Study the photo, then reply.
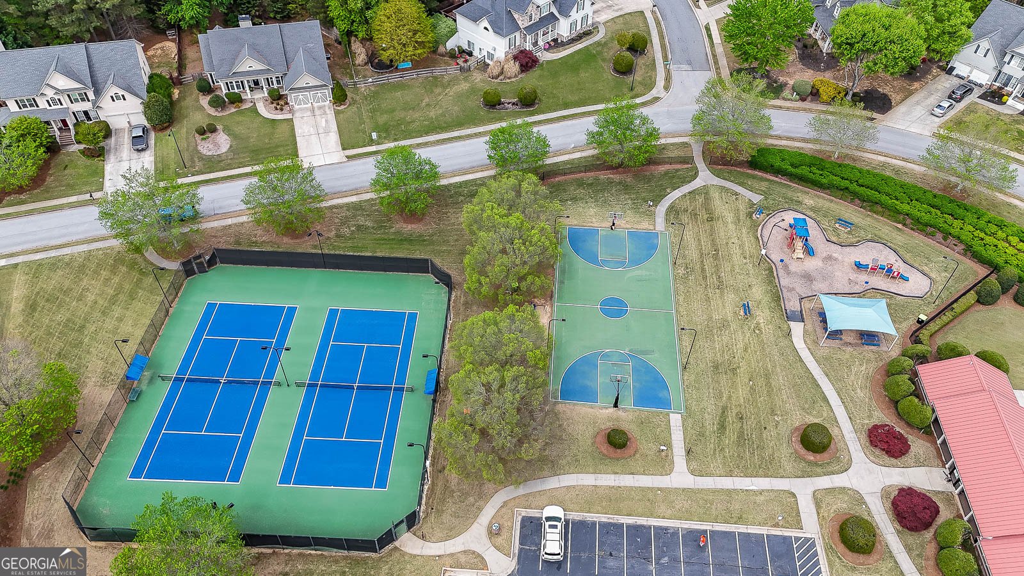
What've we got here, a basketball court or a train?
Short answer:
basketball court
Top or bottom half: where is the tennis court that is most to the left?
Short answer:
bottom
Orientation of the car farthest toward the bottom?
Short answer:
from top to bottom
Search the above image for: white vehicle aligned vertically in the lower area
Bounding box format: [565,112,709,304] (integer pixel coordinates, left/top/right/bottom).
[541,509,566,562]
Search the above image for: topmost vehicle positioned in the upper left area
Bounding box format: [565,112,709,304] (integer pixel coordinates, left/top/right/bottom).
[130,127,148,152]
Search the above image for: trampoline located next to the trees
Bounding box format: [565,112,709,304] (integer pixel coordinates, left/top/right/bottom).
[370,57,395,72]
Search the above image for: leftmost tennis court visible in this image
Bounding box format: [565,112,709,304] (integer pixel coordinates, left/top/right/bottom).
[77,266,324,533]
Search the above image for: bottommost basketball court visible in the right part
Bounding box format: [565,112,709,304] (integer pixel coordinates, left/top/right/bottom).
[548,225,688,414]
